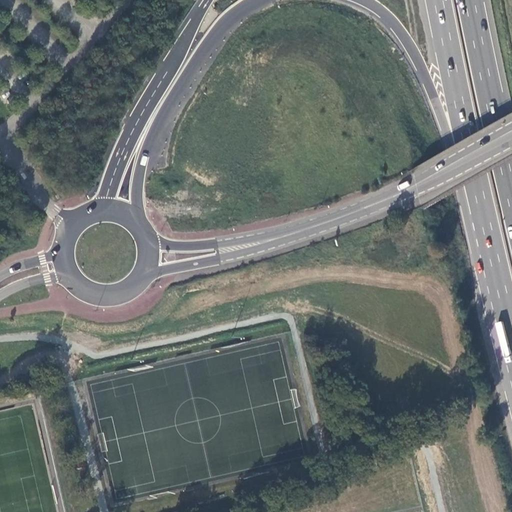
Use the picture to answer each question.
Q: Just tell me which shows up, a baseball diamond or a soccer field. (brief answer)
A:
soccer field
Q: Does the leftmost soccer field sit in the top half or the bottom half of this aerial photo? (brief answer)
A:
bottom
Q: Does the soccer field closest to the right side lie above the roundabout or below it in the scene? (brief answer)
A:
below it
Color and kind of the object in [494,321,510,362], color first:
white vehicle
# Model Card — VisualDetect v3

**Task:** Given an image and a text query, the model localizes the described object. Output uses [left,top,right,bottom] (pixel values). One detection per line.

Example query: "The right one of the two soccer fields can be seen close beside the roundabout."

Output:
[78,330,315,504]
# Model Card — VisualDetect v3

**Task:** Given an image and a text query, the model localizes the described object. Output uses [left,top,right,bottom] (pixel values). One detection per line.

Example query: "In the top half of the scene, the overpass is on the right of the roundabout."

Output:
[412,112,512,206]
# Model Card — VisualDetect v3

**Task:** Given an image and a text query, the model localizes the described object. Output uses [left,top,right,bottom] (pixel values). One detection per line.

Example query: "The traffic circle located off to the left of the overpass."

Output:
[0,133,216,308]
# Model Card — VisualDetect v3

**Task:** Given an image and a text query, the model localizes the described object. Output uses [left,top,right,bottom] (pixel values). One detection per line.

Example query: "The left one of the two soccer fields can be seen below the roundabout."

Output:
[0,397,66,512]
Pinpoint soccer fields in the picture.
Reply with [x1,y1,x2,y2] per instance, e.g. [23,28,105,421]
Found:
[78,330,315,504]
[0,397,66,512]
